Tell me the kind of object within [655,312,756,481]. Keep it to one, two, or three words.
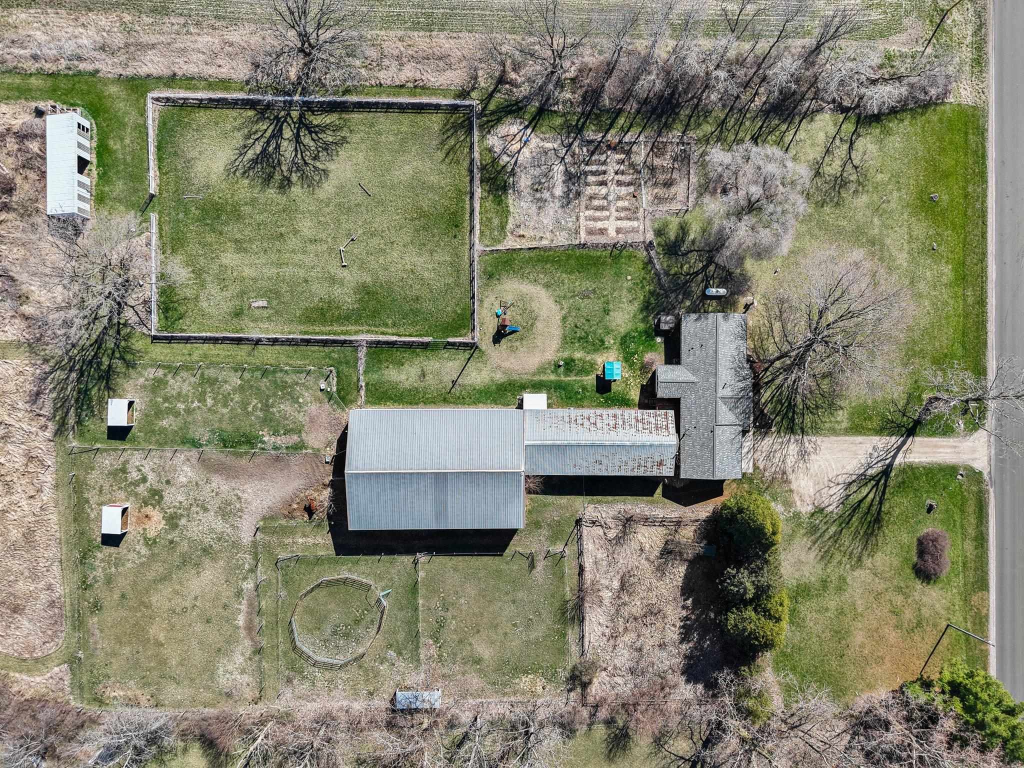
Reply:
house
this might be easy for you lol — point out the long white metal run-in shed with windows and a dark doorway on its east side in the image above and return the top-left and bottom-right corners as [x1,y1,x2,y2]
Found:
[46,114,90,218]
